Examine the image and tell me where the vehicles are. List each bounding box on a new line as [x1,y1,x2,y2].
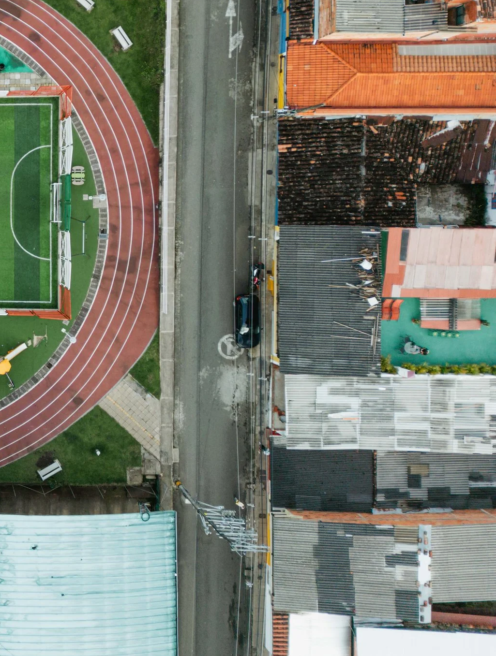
[233,295,263,348]
[253,262,268,289]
